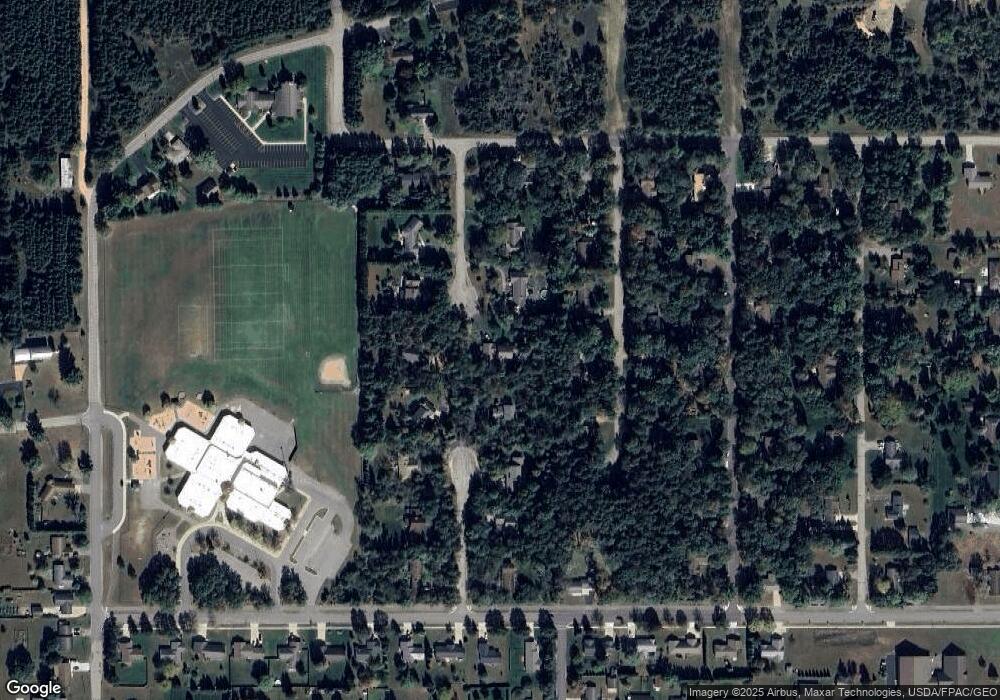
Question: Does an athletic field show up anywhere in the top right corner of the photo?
No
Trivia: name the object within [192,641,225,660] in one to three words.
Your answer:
house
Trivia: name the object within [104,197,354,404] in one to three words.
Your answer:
sports field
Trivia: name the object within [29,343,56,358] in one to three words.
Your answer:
barn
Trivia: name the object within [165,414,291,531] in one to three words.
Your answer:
building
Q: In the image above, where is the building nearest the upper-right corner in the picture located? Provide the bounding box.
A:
[965,168,993,188]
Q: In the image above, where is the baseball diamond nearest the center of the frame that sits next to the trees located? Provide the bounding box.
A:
[316,353,354,391]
